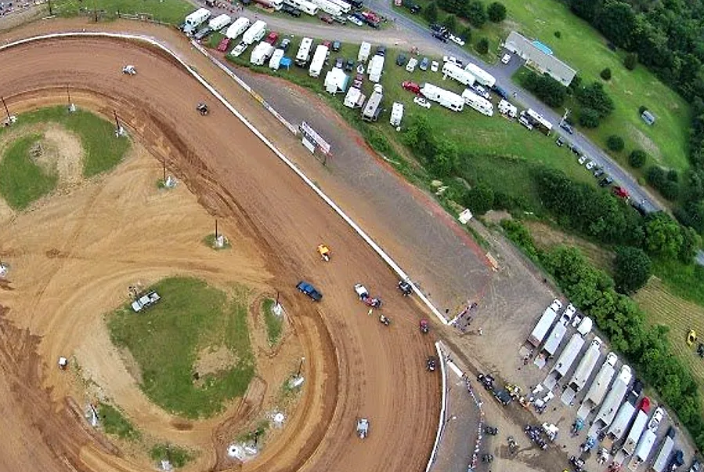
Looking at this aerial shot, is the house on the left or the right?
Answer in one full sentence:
You can find the house on the right side of the picture.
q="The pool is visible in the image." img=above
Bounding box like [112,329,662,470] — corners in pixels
[532,37,556,54]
